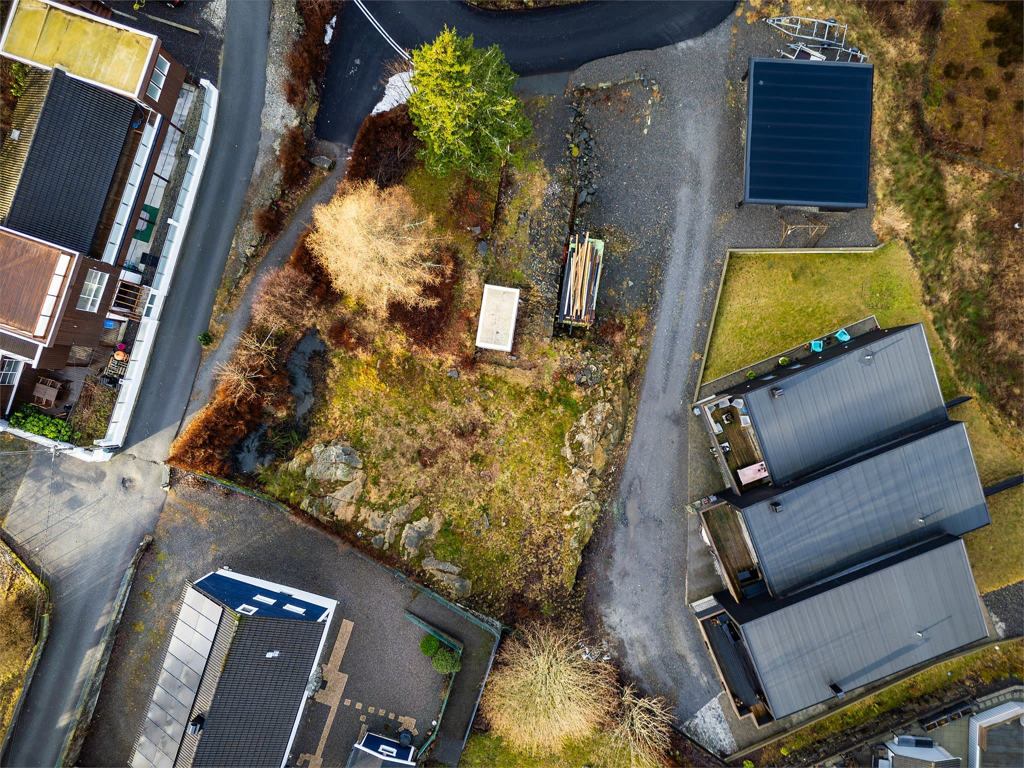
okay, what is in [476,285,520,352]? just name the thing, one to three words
shed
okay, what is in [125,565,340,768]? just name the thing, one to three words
house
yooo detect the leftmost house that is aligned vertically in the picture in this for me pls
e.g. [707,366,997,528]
[0,0,194,415]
